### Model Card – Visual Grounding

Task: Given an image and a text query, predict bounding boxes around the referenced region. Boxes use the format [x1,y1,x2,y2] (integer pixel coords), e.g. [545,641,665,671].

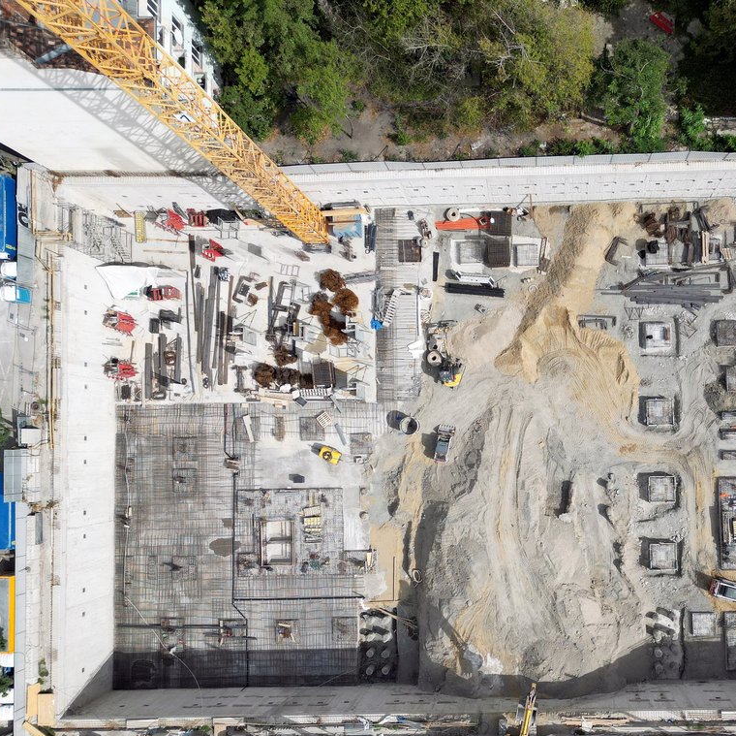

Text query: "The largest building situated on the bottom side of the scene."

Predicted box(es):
[3,450,44,501]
